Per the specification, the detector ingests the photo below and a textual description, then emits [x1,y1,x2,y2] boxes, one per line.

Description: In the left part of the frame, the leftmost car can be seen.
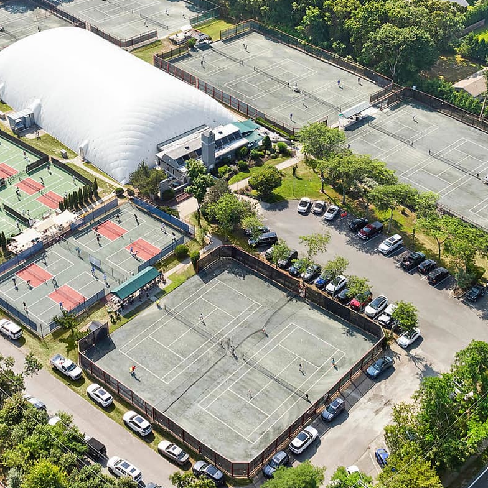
[0,319,23,340]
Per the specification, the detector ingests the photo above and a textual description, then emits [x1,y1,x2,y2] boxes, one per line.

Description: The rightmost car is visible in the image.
[465,281,488,301]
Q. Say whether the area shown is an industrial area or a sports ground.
sports ground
